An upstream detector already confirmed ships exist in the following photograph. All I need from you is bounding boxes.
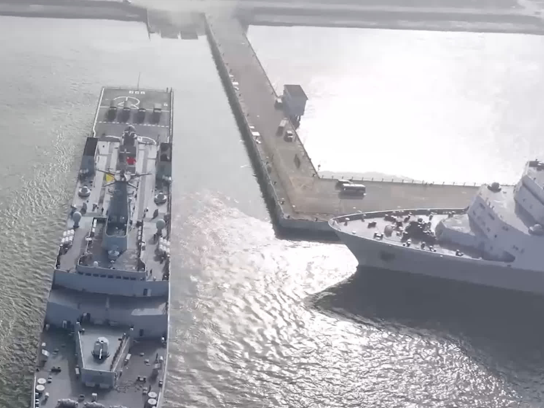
[328,165,544,299]
[31,69,173,408]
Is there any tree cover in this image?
No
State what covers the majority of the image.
water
